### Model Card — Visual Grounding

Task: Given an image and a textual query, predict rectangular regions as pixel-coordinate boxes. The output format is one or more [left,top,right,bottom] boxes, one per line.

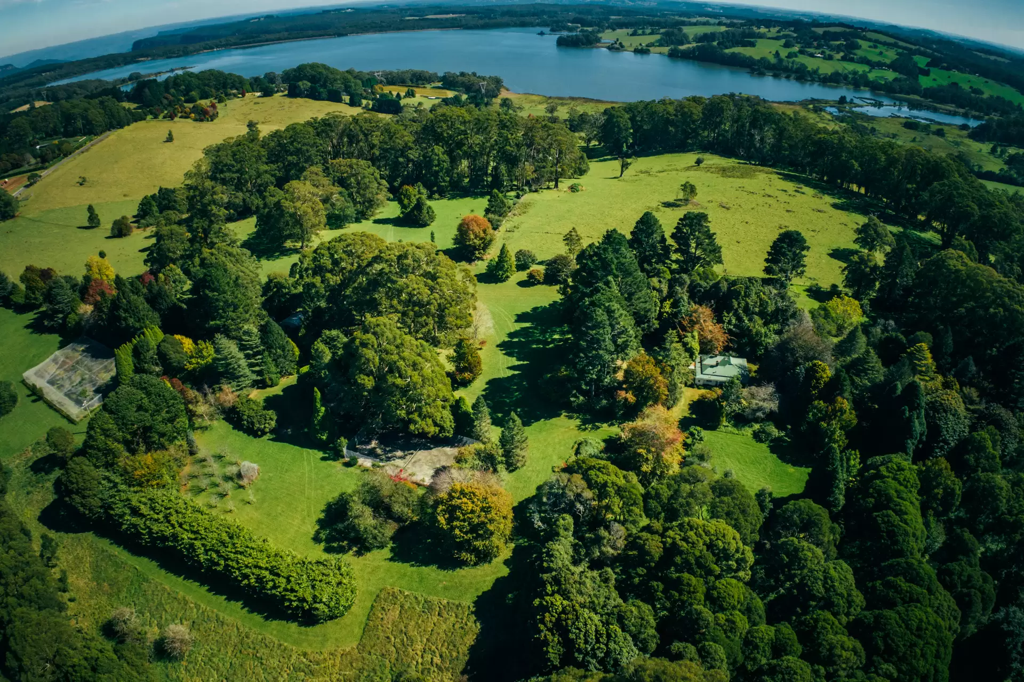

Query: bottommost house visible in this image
[687,347,749,388]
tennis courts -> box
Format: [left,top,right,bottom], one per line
[345,421,475,488]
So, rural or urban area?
rural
